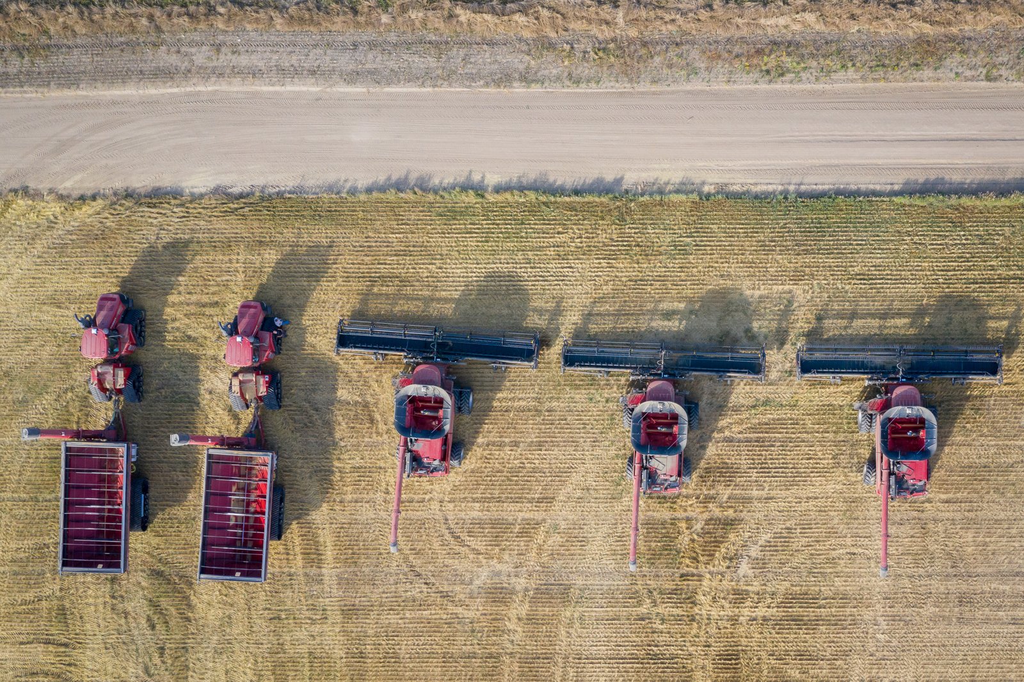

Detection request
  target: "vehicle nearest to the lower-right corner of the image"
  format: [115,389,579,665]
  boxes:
[795,342,1004,575]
